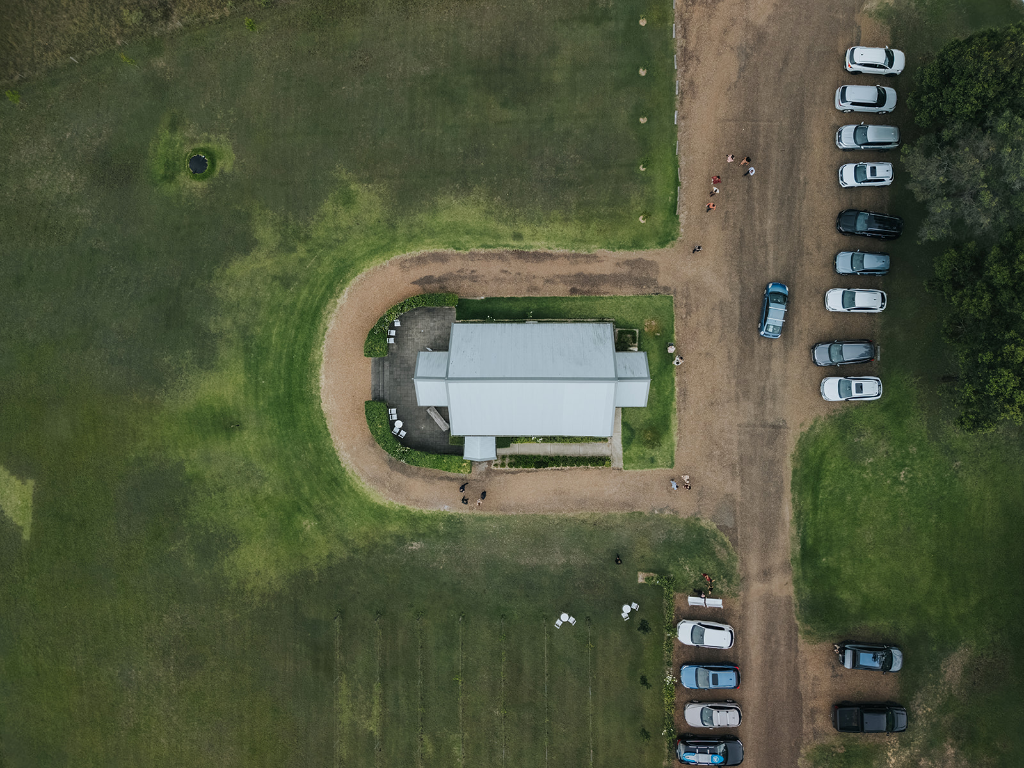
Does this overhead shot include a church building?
Yes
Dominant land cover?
grass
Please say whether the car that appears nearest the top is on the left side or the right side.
right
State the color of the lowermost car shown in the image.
black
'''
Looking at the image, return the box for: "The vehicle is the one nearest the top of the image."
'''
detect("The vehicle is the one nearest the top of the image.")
[844,45,905,79]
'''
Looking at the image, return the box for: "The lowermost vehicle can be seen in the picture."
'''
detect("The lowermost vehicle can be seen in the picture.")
[675,731,743,768]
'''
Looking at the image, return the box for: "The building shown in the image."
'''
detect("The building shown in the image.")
[411,320,652,461]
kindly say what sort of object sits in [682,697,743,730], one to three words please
car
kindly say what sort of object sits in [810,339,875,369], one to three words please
car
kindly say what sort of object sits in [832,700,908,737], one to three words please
truck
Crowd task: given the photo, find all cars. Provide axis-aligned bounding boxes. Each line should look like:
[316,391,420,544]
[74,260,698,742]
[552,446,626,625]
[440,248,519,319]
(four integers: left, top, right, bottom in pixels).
[835,207,902,242]
[757,285,791,338]
[678,660,741,693]
[837,159,894,190]
[831,247,890,277]
[834,121,900,155]
[844,45,905,79]
[819,373,882,404]
[835,84,896,117]
[841,640,903,675]
[810,339,875,369]
[676,617,735,649]
[675,731,743,768]
[682,697,743,730]
[823,284,886,315]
